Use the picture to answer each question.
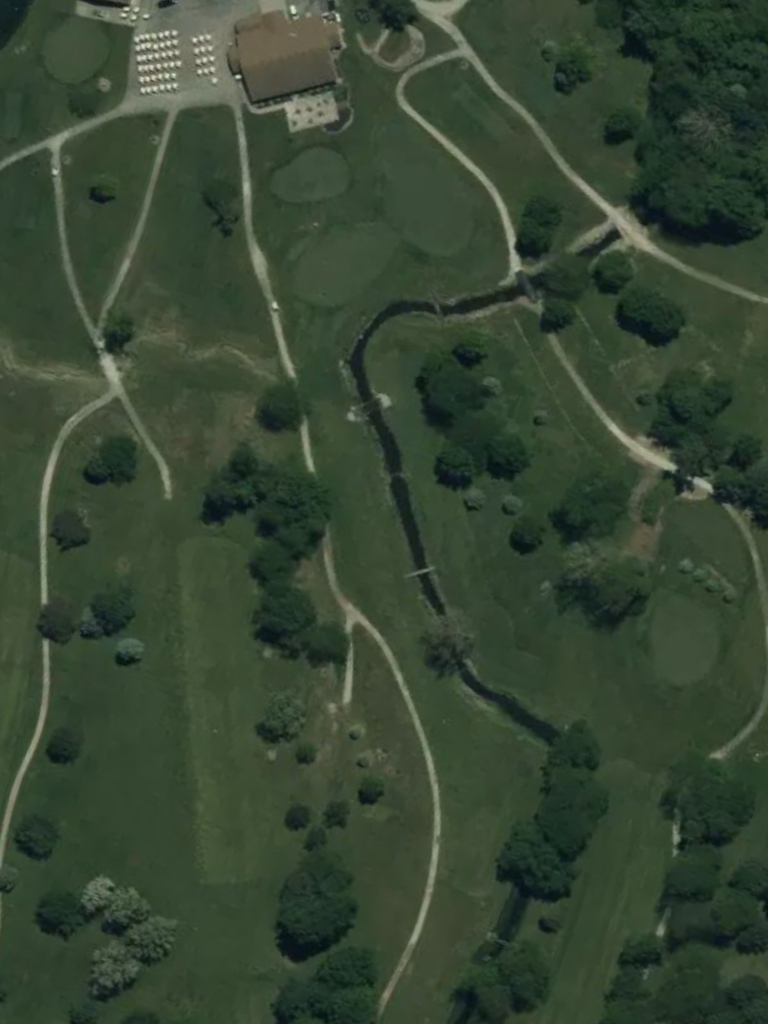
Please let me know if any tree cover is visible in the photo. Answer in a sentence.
Yes, some tree cover is visible.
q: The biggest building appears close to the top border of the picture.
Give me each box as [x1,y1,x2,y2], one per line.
[227,8,343,102]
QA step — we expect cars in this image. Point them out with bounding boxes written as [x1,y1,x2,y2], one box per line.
[158,0,178,6]
[328,0,337,12]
